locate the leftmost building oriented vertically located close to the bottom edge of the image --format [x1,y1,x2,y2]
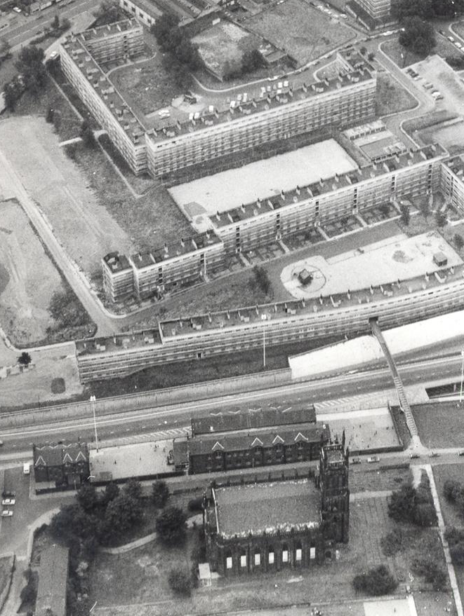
[38,541,80,616]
